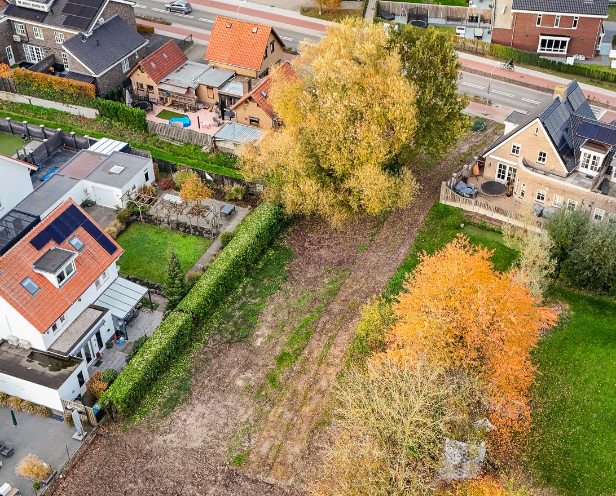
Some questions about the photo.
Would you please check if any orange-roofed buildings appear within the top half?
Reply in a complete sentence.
Yes, the scene does show an orange-roofed building within the top half.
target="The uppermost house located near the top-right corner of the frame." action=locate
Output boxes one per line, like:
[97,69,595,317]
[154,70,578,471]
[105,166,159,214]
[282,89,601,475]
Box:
[491,0,610,57]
